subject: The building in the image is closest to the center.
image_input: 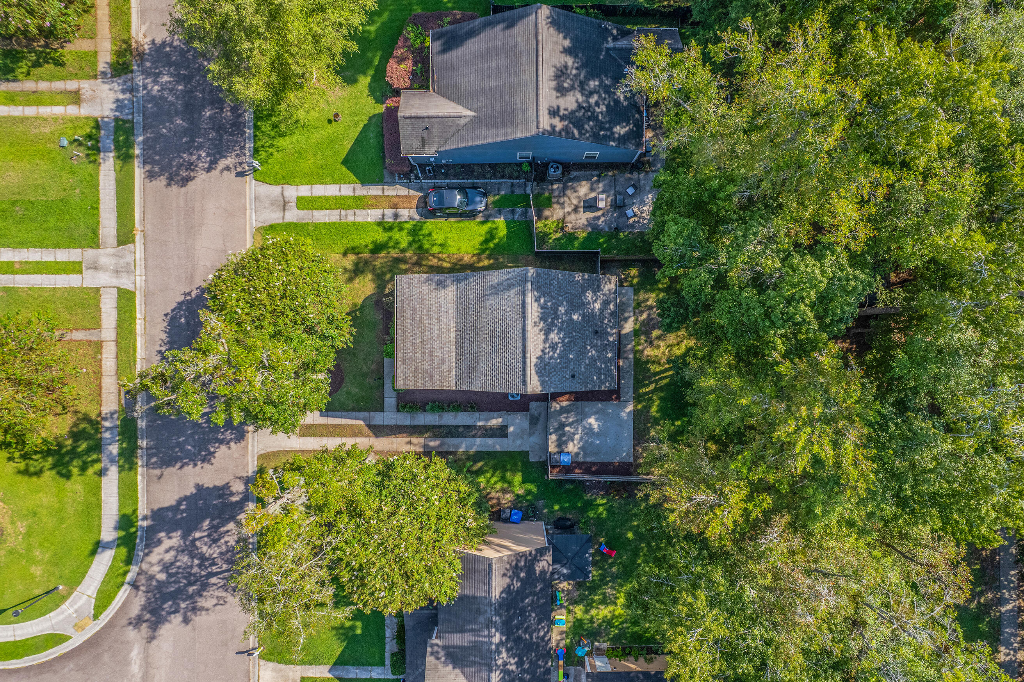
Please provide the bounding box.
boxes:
[394,268,620,394]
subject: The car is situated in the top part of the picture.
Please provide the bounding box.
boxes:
[426,183,488,214]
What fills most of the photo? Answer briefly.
trees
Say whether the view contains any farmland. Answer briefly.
No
